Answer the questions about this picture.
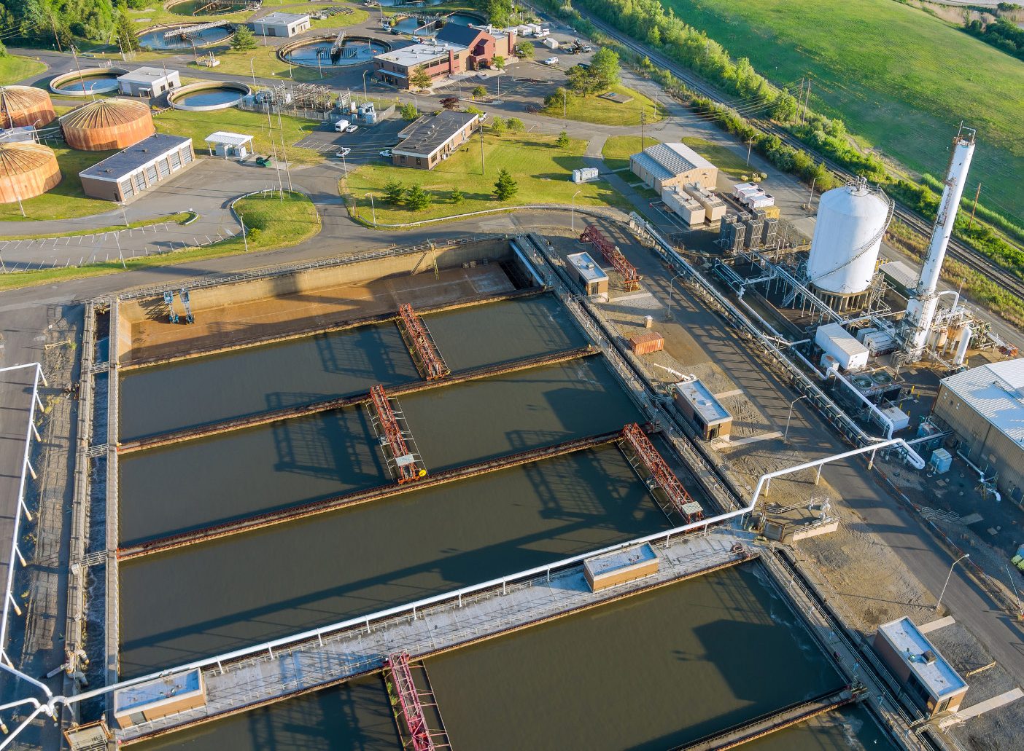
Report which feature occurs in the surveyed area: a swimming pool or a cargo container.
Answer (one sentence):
The image shows a cargo container.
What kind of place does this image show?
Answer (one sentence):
This looks like an industrial area.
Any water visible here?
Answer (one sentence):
Yes, there's water in this view.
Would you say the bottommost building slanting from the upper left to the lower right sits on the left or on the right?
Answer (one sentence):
The bottommost building slanting from the upper left to the lower right is on the right side of the image.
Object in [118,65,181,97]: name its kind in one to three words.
building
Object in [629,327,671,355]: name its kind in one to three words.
shipping container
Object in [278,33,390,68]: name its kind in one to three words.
storage tank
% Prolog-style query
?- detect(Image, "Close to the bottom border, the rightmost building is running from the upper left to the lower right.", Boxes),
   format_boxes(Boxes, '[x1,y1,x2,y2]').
[874,615,967,717]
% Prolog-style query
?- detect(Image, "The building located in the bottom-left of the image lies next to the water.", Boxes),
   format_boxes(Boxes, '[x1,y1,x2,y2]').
[114,662,209,728]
